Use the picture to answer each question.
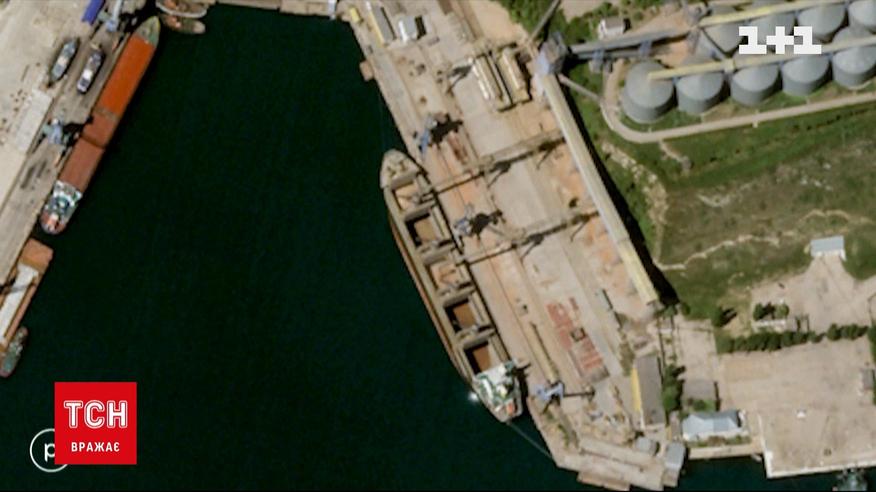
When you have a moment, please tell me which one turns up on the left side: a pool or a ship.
ship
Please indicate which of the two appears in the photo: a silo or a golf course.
silo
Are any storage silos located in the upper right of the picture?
Yes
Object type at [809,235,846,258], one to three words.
hangar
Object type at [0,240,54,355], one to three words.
ship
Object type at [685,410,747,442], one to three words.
house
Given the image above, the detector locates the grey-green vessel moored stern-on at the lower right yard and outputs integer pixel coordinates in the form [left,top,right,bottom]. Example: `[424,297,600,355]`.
[834,466,865,492]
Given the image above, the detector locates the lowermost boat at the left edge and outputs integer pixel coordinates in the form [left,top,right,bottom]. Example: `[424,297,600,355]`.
[0,328,28,380]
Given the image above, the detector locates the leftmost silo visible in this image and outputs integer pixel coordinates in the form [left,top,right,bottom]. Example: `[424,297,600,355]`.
[622,64,674,123]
